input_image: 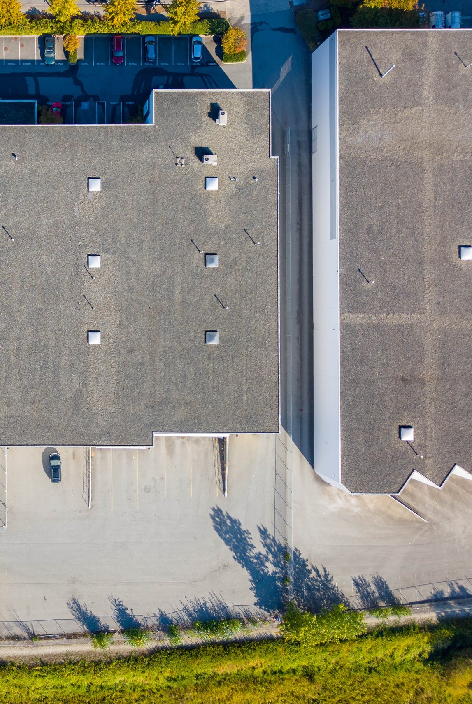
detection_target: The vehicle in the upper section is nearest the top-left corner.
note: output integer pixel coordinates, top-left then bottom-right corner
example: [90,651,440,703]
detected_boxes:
[43,36,57,67]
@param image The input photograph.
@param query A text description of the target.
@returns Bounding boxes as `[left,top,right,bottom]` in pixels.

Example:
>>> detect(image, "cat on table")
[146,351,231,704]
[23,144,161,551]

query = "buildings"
[0,88,281,451]
[312,29,472,495]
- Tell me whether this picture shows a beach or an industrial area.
industrial area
